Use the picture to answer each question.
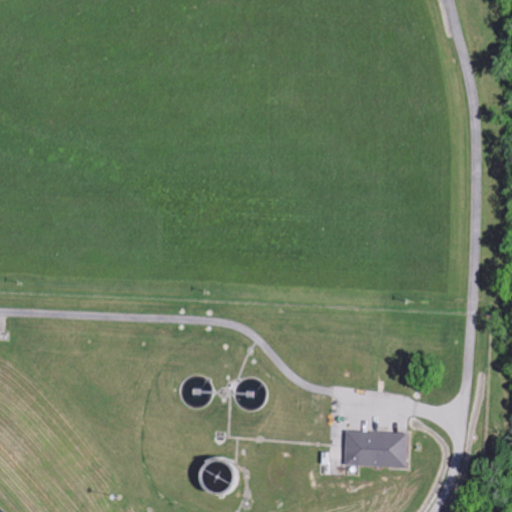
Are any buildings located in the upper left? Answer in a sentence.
No, the scene shows no building in the upper left.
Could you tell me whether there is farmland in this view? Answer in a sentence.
Yes, there is farmland in the image.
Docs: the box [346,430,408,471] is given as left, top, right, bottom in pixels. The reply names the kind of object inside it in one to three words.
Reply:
building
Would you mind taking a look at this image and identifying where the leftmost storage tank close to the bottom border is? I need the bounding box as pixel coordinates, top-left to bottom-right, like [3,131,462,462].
[199,458,239,500]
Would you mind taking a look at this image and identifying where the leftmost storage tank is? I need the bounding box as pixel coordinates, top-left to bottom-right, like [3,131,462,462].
[180,374,214,410]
